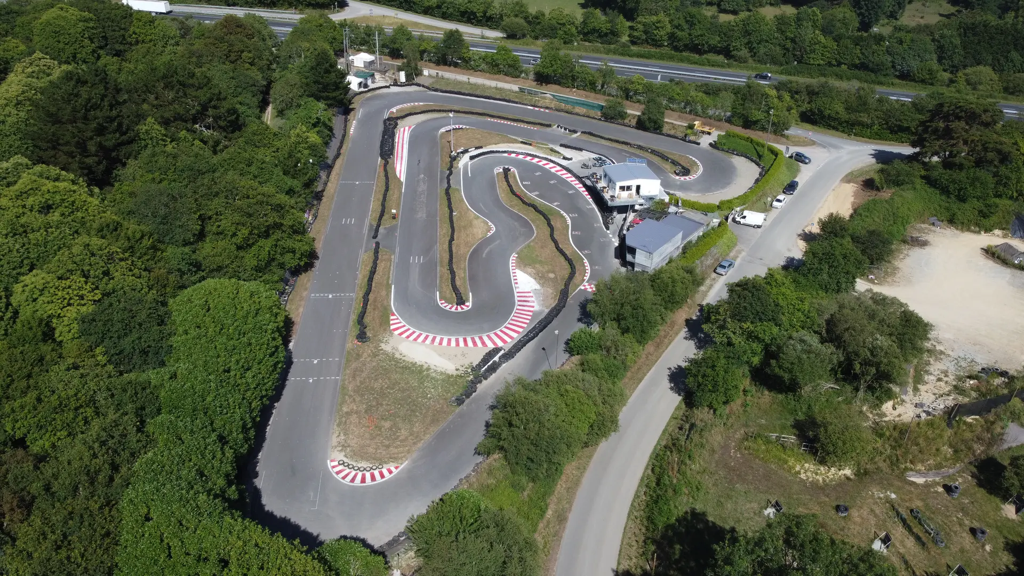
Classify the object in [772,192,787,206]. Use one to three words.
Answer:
car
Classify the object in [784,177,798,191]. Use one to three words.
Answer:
car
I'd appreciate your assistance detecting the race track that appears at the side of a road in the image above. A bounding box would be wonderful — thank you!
[254,91,738,560]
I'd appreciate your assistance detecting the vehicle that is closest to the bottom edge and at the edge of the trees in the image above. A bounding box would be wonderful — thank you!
[714,259,736,273]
